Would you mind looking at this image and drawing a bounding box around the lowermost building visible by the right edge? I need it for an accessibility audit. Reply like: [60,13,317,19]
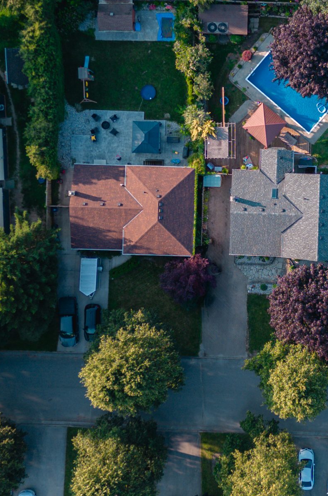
[229,146,328,263]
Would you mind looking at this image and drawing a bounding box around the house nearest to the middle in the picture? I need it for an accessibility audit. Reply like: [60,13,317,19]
[65,164,195,257]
